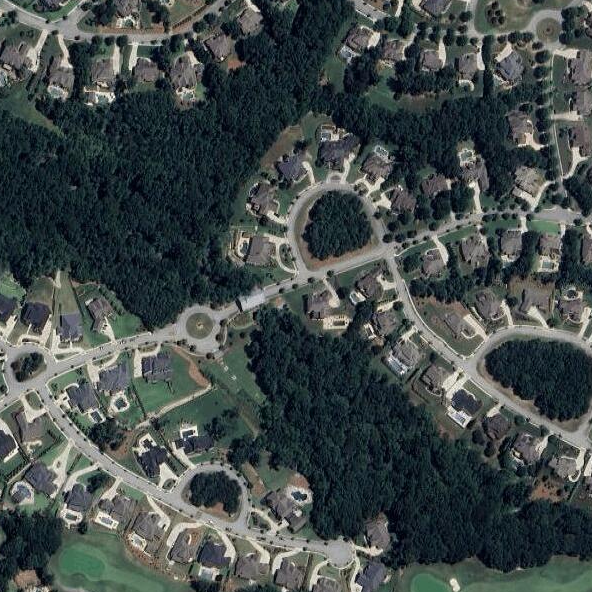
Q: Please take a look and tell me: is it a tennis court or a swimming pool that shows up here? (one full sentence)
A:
The image shows a swimming pool.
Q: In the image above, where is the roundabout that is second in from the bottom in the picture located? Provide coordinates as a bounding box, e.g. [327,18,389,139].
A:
[180,305,223,348]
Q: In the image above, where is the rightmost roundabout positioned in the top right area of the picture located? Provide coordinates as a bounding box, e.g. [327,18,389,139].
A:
[529,12,568,48]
